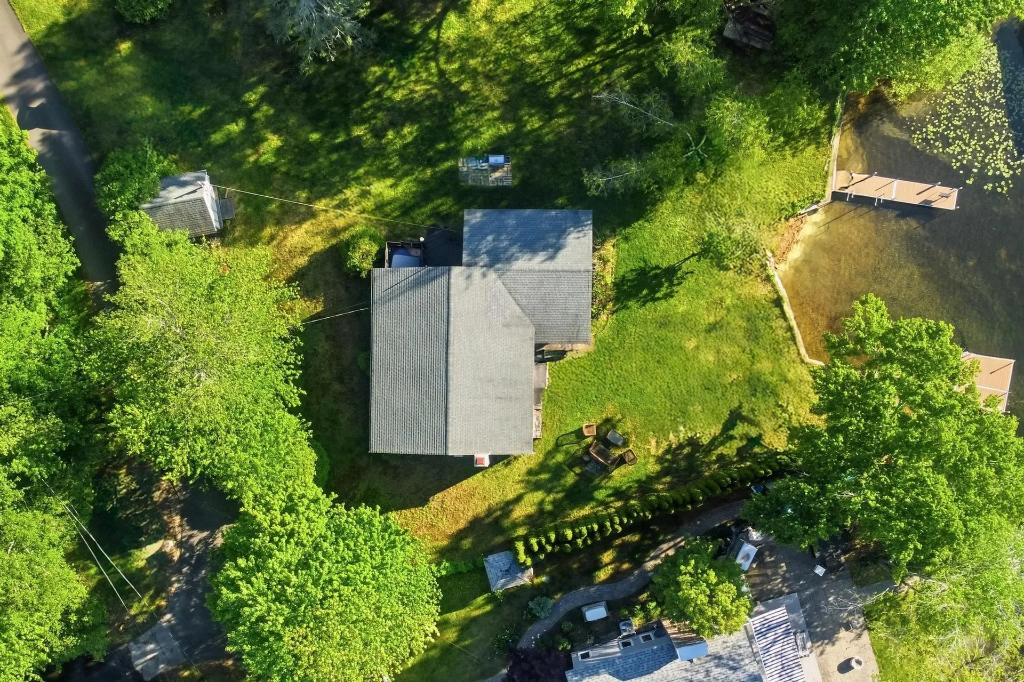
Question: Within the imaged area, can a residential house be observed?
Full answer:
Yes, the frame does contain a residential house.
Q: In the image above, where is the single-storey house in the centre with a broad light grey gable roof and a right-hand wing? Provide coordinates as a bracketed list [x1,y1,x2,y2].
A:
[370,208,595,471]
